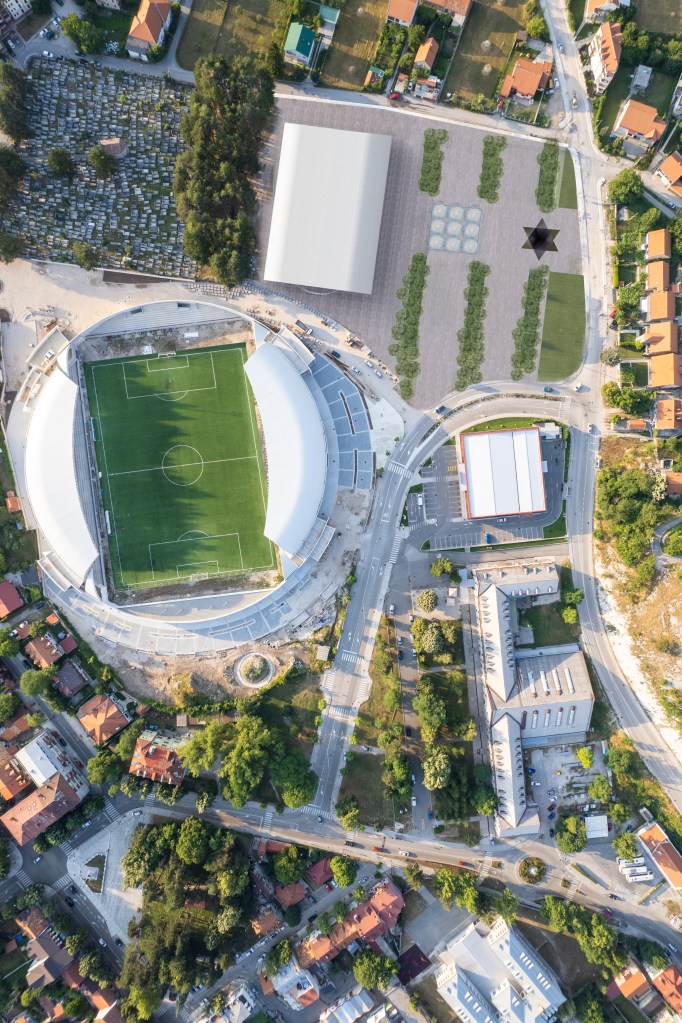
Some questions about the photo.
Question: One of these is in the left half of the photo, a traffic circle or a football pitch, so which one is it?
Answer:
football pitch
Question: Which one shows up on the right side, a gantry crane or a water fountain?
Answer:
water fountain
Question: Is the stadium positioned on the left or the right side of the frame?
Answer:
left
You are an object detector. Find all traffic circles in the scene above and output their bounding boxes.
[514,852,551,889]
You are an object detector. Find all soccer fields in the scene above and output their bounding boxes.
[83,343,277,590]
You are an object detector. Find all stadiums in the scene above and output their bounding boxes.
[9,300,376,656]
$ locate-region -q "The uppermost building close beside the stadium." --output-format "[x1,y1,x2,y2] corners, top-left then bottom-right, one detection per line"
[264,122,391,295]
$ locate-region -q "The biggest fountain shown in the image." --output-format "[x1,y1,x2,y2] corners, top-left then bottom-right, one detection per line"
[428,203,482,254]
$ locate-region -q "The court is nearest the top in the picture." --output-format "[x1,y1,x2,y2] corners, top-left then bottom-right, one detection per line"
[406,887,471,956]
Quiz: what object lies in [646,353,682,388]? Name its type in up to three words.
house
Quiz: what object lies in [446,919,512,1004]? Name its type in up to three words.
building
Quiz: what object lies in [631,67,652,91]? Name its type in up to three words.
shed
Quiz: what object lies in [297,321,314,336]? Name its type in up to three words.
vehicle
